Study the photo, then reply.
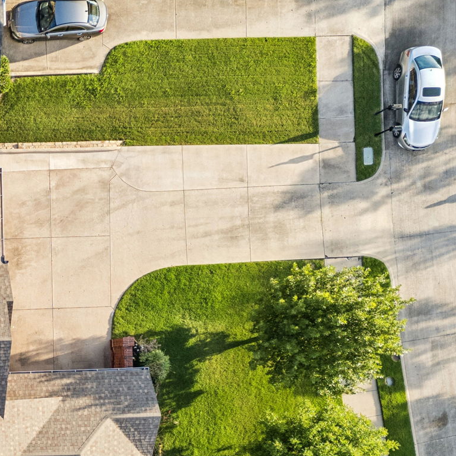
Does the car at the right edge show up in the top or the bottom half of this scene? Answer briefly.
top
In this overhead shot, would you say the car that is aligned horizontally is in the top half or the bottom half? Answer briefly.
top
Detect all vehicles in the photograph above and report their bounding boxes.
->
[7,0,111,48]
[392,44,451,152]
